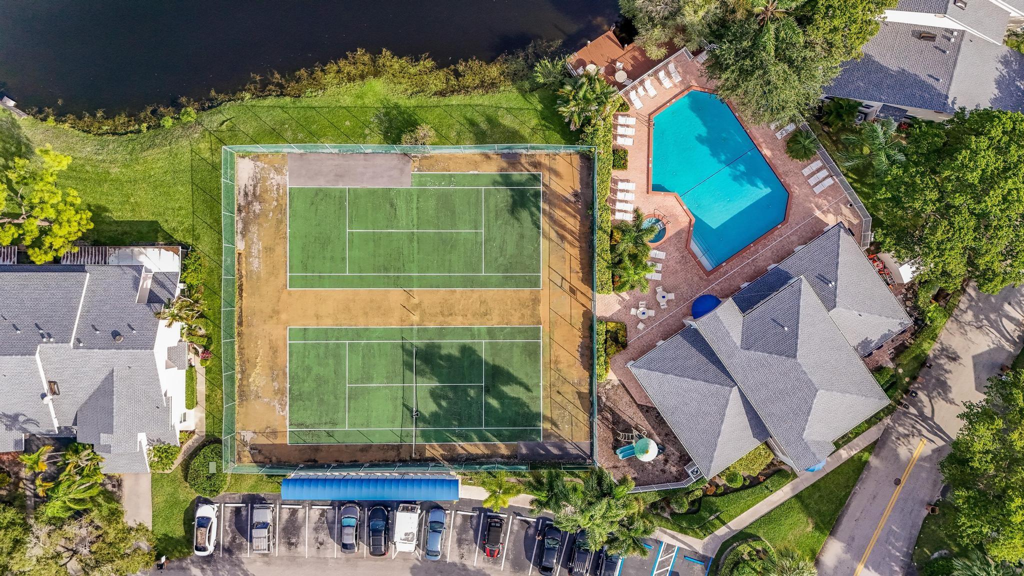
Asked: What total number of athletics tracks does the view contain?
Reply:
0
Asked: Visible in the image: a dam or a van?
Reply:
van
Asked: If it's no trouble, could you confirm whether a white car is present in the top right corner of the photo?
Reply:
No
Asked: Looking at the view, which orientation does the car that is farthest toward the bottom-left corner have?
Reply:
up and down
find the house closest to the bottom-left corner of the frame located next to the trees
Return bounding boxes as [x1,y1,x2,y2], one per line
[0,246,194,473]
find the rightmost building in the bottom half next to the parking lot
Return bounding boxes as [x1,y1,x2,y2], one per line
[622,221,913,479]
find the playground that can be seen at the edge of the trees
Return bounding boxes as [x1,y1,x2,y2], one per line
[595,374,707,492]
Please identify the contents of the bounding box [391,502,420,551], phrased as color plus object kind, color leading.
white van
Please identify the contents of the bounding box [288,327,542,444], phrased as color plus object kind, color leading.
green tennis court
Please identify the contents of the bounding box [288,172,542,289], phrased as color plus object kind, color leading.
green tennis court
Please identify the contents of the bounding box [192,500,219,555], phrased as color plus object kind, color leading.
white car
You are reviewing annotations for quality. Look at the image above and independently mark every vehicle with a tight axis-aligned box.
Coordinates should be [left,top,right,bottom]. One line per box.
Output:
[536,521,562,576]
[249,502,277,554]
[365,504,390,557]
[337,501,362,553]
[481,515,505,557]
[192,500,219,555]
[565,530,592,576]
[391,502,420,551]
[424,506,448,560]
